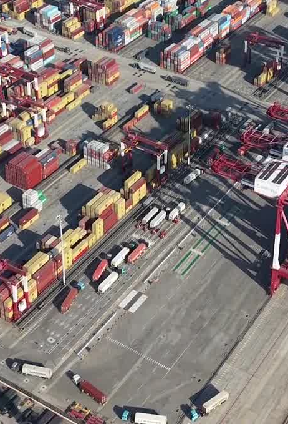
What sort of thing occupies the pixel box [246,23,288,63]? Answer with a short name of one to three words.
crane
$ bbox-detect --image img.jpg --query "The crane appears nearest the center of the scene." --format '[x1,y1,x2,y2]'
[123,130,178,186]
